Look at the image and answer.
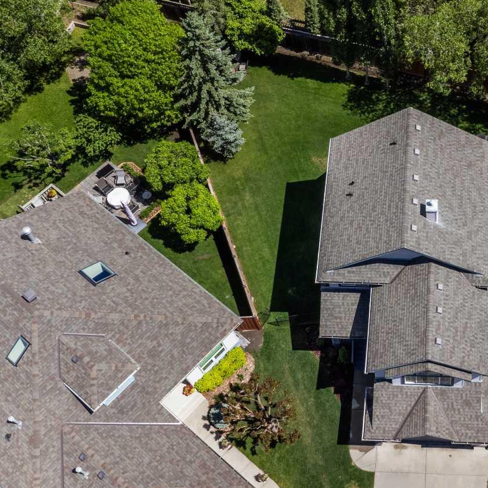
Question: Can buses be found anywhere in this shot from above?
No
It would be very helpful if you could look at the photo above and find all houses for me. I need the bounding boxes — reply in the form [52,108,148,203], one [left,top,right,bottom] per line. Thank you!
[313,108,488,448]
[0,191,255,488]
